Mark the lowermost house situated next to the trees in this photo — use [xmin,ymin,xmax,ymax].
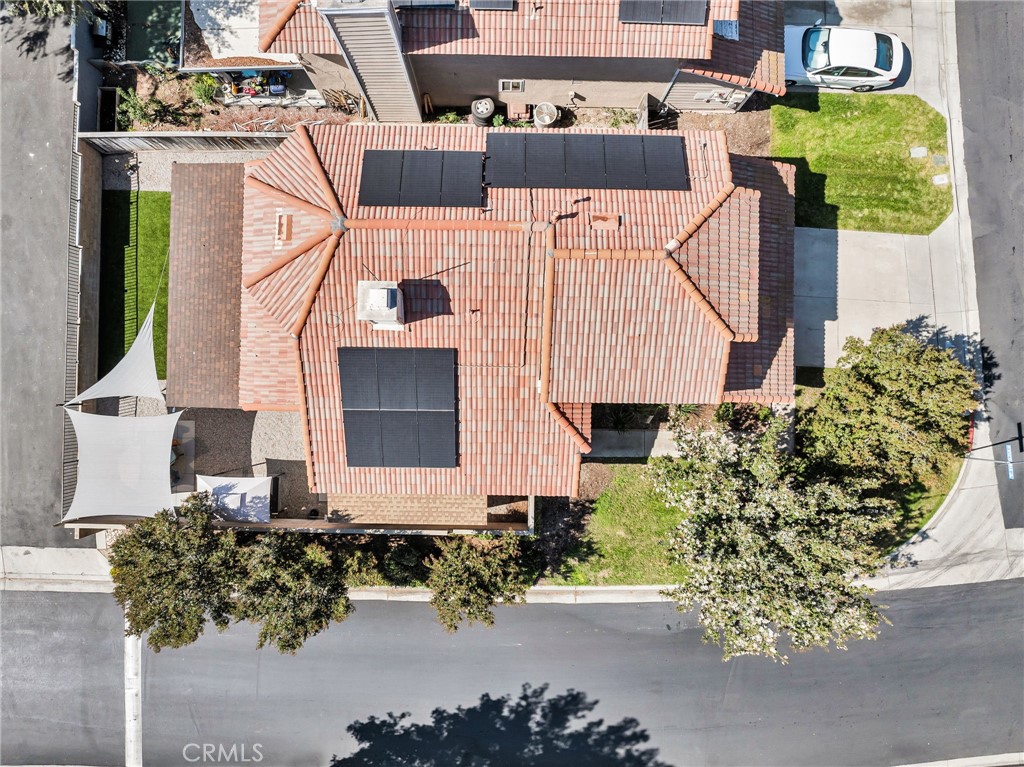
[167,124,800,526]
